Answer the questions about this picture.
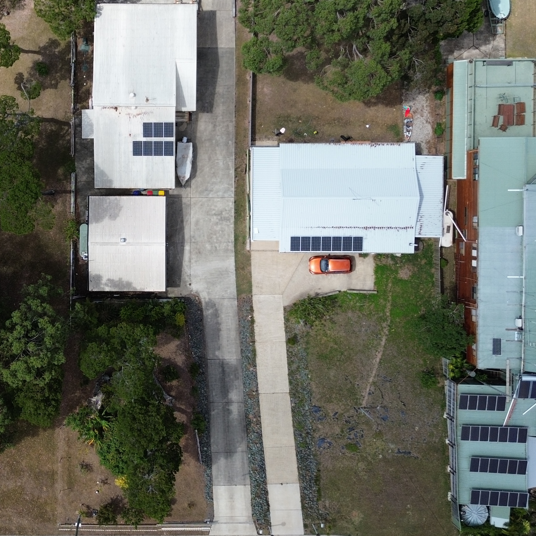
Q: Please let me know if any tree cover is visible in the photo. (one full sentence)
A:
Yes, the picture does contain tree cover.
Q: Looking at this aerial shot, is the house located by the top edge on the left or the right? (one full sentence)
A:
You can find the house located by the top edge on the left side of the picture.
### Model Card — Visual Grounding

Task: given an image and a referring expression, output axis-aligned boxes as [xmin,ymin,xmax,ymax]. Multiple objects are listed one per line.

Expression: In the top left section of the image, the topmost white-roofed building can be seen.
[81,2,197,190]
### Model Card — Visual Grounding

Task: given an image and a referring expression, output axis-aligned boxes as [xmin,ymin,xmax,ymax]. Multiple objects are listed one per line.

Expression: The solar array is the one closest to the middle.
[290,236,363,252]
